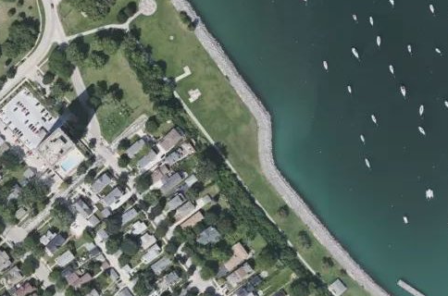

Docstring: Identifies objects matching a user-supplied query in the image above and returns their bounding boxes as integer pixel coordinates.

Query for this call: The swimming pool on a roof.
[60,154,78,172]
